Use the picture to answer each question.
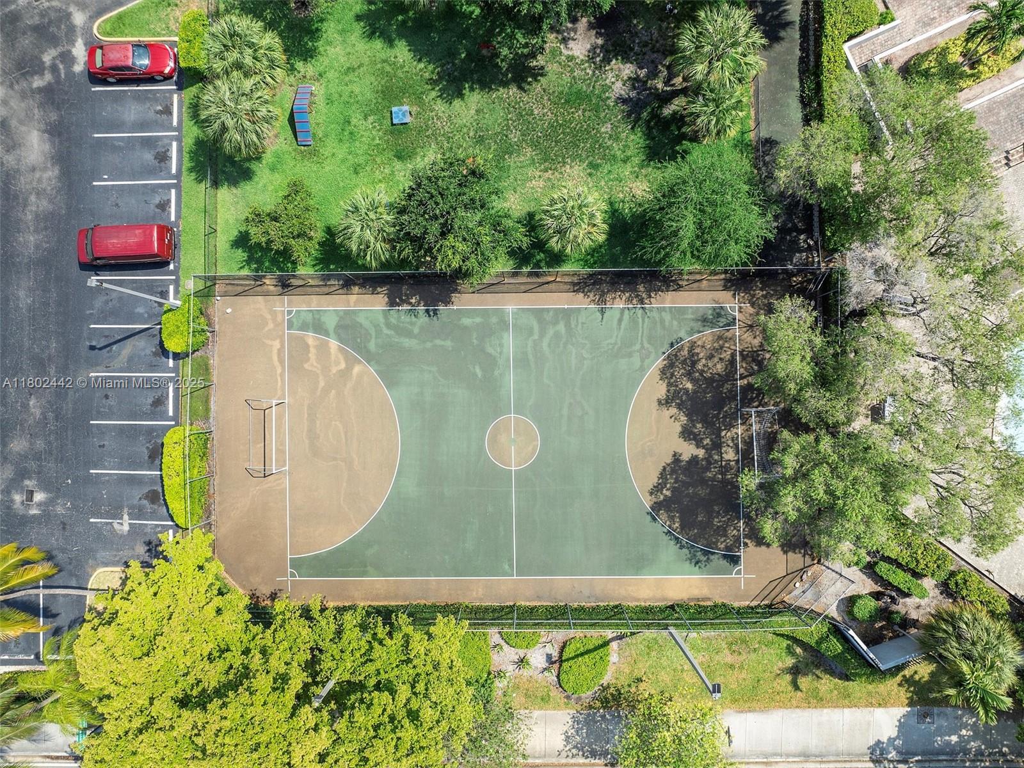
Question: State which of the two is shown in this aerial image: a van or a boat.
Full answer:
I can see a van in this picture.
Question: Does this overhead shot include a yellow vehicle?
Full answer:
No, I can see no yellow vehicle in this picture.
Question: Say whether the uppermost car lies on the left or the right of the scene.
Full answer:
The uppermost car sits on the left side.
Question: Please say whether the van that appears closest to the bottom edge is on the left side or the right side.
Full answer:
The van that appears closest to the bottom edge is on the left side of the image.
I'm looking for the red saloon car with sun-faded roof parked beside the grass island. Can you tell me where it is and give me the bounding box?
[89,41,178,84]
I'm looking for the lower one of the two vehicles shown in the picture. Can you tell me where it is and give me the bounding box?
[77,223,179,269]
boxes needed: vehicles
[77,223,179,269]
[89,41,178,84]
